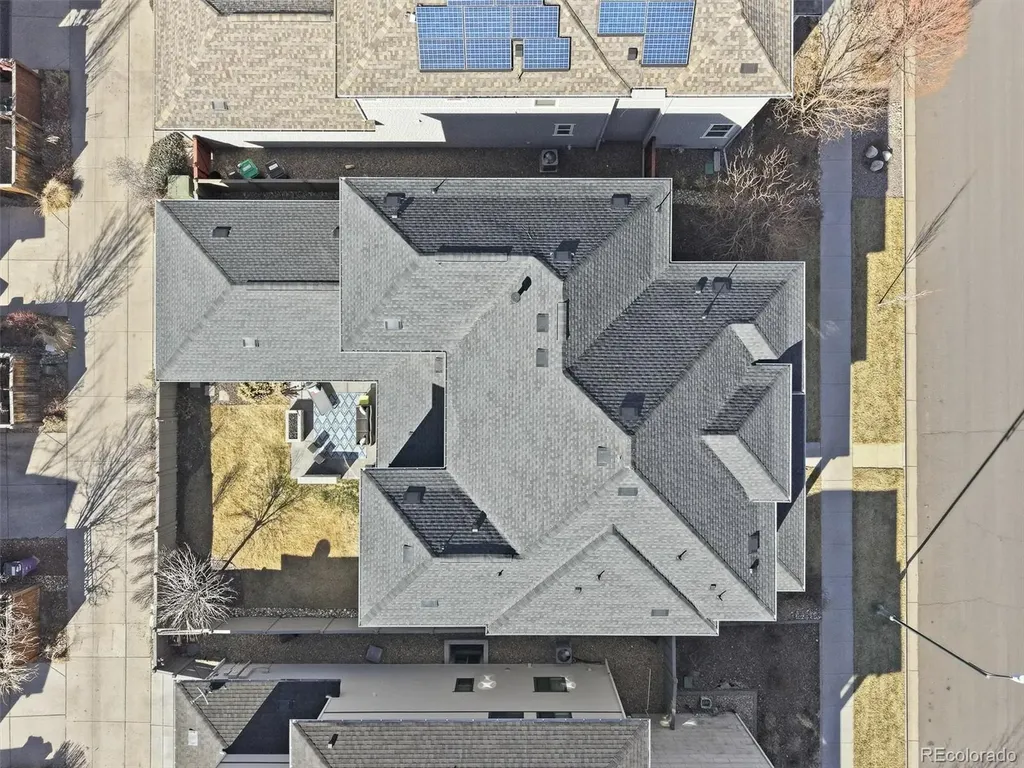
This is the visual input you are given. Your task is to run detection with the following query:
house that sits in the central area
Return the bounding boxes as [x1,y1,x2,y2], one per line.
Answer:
[155,177,806,636]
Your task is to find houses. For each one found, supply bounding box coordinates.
[155,177,806,636]
[154,0,835,169]
[174,661,775,768]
